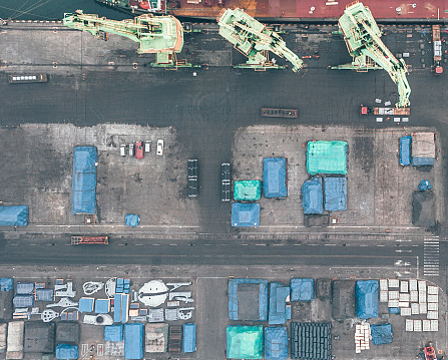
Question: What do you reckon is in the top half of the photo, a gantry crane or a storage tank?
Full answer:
Looking in the top half of the photo, you will find a gantry crane.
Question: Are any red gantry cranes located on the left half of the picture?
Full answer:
No, no red gantry crane appears on the left half of the picture.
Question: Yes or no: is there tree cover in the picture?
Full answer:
No, tree cover can't be seen anywhere here.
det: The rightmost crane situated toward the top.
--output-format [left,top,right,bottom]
[326,3,418,106]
